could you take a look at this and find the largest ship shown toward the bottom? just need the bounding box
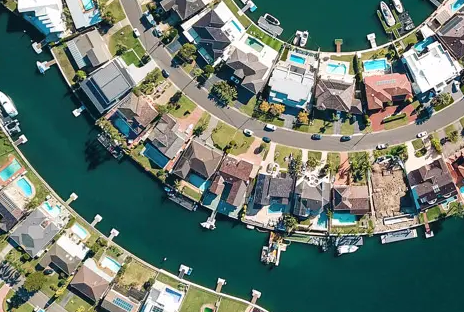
[256,228,280,268]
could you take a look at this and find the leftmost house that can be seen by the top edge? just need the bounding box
[17,0,70,33]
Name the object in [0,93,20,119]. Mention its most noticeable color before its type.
white boat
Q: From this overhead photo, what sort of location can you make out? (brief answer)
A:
residential area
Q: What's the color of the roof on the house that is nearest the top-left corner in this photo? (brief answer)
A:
white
